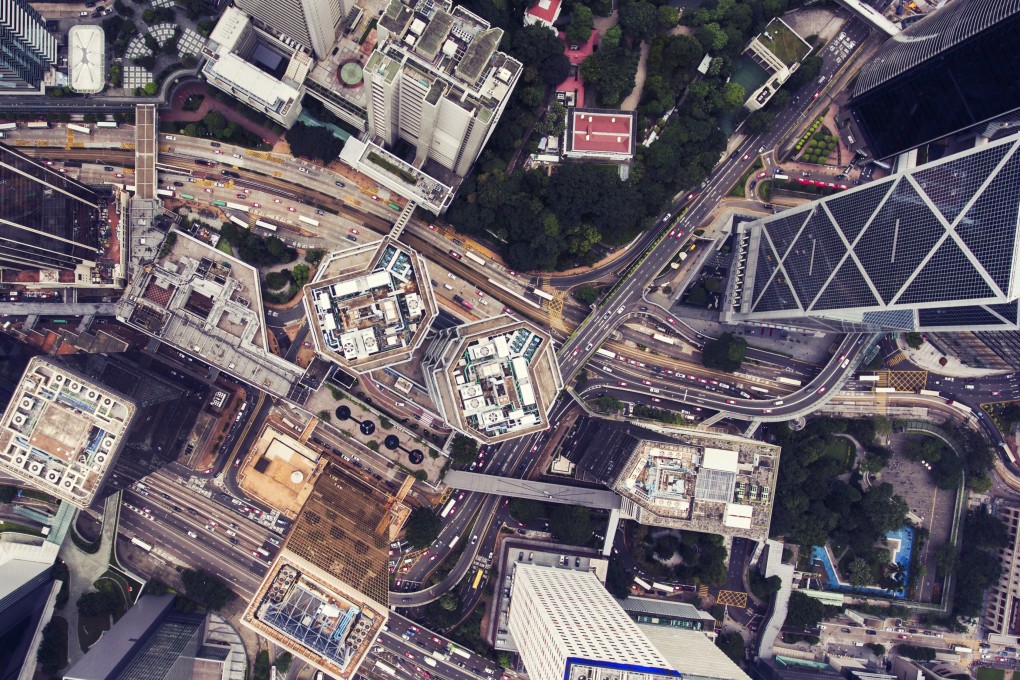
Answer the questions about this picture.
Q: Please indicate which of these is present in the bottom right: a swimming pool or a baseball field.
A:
swimming pool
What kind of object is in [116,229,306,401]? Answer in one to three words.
building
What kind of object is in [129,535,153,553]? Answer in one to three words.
vehicle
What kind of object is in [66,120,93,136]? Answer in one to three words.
vehicle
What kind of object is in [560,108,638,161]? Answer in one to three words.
house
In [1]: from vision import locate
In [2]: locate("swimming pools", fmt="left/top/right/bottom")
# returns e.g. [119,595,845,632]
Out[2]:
[810,528,916,599]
